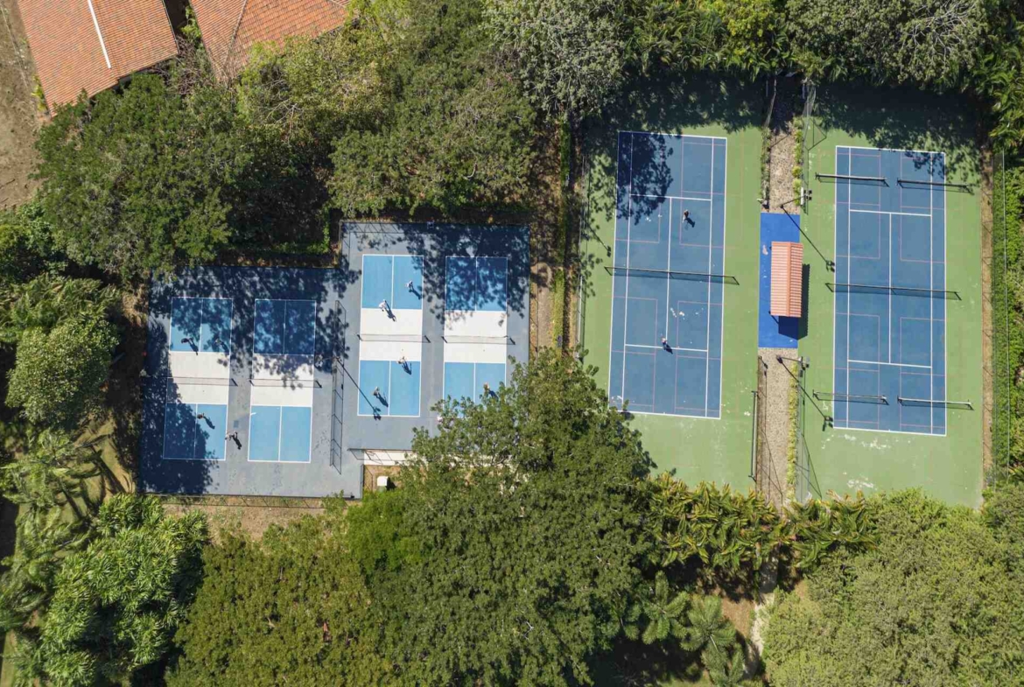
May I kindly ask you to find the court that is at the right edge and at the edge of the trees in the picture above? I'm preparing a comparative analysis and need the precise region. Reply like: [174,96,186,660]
[793,72,984,516]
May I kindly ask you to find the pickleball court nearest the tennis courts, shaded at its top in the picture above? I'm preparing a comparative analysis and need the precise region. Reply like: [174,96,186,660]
[442,256,508,419]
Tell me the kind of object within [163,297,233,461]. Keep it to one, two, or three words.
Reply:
sports court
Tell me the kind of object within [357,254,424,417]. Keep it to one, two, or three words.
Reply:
sports court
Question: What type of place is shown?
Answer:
sports ground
